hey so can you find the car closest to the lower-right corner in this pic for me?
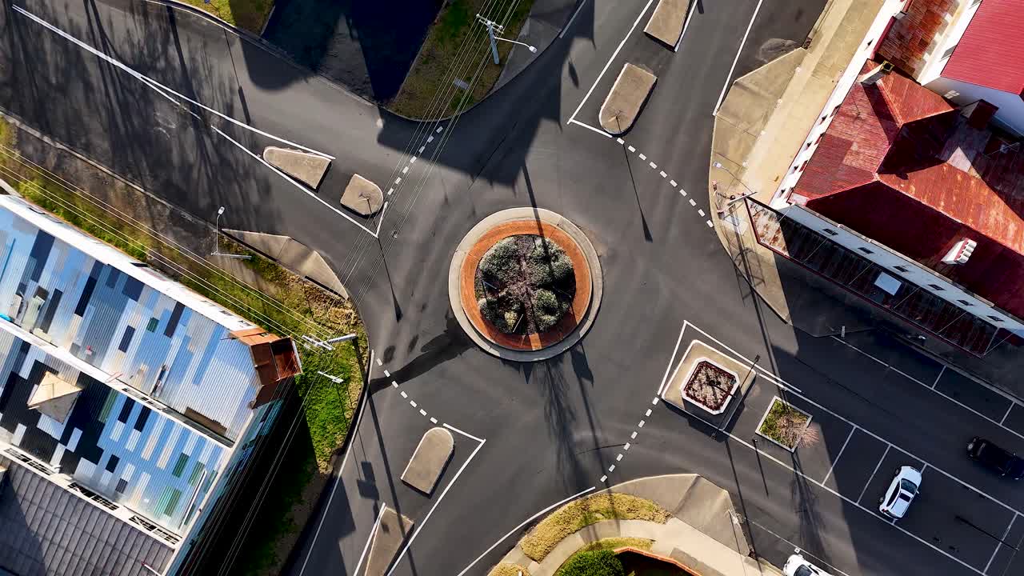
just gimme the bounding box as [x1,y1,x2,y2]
[968,438,1024,480]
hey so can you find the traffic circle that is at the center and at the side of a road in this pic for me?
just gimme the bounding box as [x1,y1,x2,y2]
[448,207,603,362]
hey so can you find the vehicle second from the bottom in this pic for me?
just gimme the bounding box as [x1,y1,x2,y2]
[878,464,920,518]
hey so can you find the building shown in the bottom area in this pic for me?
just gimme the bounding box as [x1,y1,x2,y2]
[0,181,303,576]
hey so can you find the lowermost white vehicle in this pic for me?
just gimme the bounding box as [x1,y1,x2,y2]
[784,556,832,576]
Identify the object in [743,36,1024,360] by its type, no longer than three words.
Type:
building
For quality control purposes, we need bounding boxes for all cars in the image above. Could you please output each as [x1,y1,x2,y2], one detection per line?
[784,556,832,576]
[968,438,1024,480]
[878,464,920,518]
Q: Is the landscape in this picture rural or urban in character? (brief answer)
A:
urban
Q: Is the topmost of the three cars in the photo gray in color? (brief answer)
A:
No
